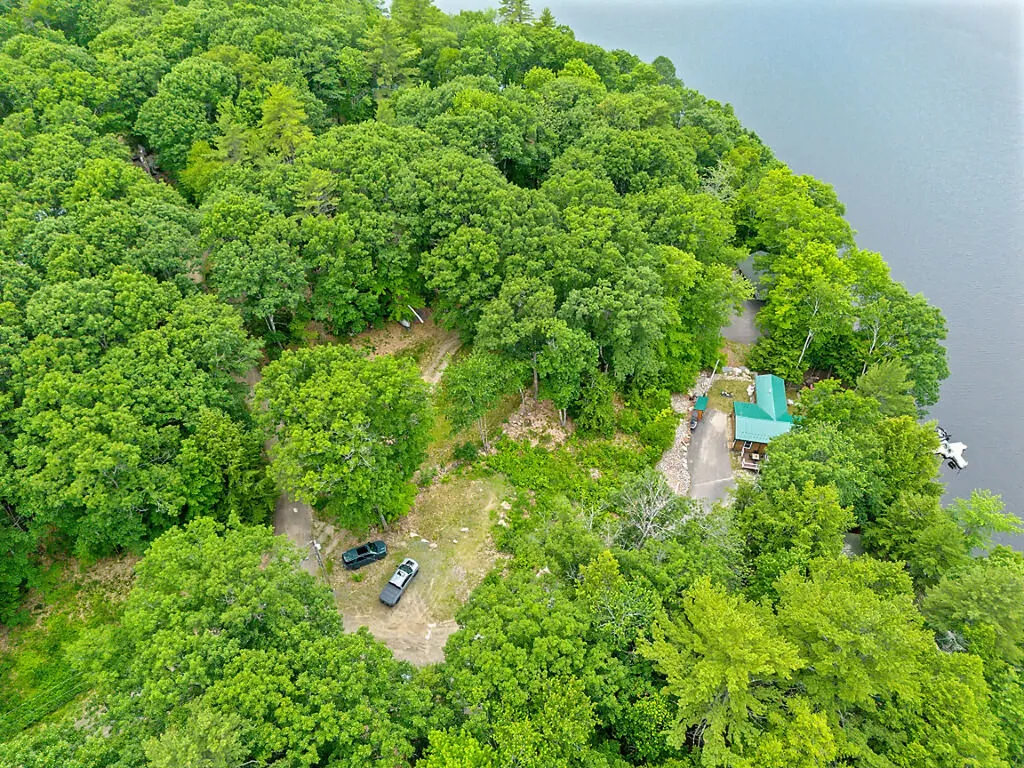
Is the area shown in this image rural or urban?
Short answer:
rural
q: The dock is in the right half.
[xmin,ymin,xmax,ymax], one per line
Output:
[926,440,969,471]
